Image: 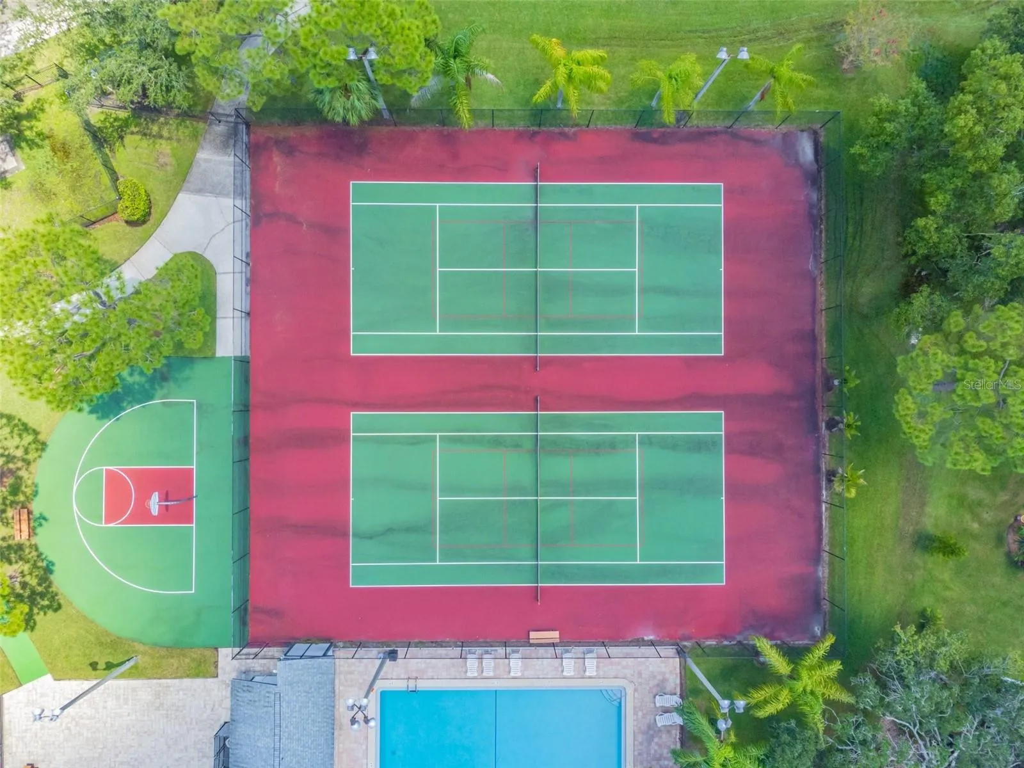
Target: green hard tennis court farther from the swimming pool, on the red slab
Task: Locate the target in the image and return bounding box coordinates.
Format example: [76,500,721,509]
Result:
[350,182,724,355]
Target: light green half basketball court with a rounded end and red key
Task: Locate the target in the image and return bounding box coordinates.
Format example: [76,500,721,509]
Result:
[36,356,249,649]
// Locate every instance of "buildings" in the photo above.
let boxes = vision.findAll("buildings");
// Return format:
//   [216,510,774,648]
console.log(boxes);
[226,644,335,768]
